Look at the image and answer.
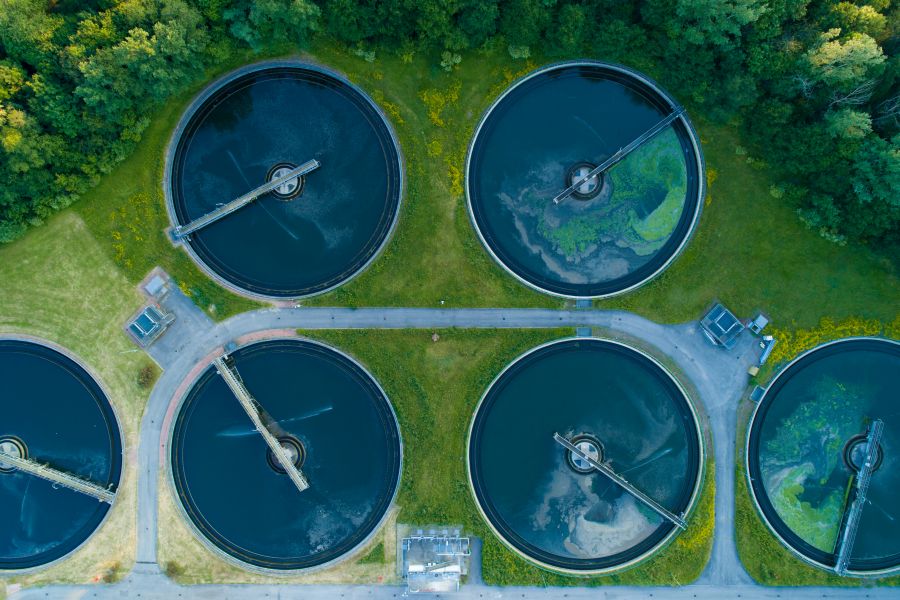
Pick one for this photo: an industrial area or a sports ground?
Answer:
industrial area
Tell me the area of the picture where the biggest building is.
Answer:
bottom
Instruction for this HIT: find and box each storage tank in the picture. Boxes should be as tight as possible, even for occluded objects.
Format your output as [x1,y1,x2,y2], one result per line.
[739,332,900,577]
[463,59,707,302]
[169,335,406,572]
[463,333,707,576]
[164,61,405,301]
[0,334,127,575]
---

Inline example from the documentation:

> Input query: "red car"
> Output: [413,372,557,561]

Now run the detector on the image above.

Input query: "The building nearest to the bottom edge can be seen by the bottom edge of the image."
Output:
[403,531,469,592]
